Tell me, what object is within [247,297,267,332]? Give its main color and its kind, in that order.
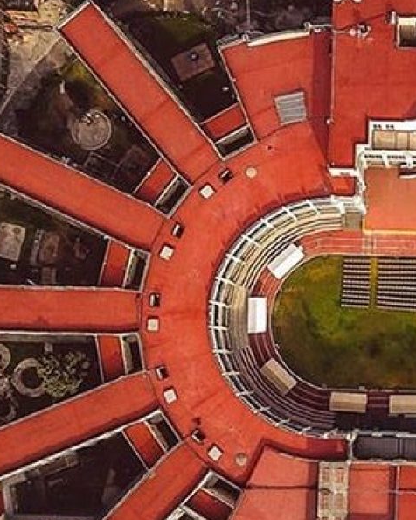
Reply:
white tent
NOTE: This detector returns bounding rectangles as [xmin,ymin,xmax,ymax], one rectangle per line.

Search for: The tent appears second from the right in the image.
[331,391,368,412]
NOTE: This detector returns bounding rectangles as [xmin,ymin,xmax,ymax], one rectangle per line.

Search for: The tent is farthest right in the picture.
[390,393,416,414]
